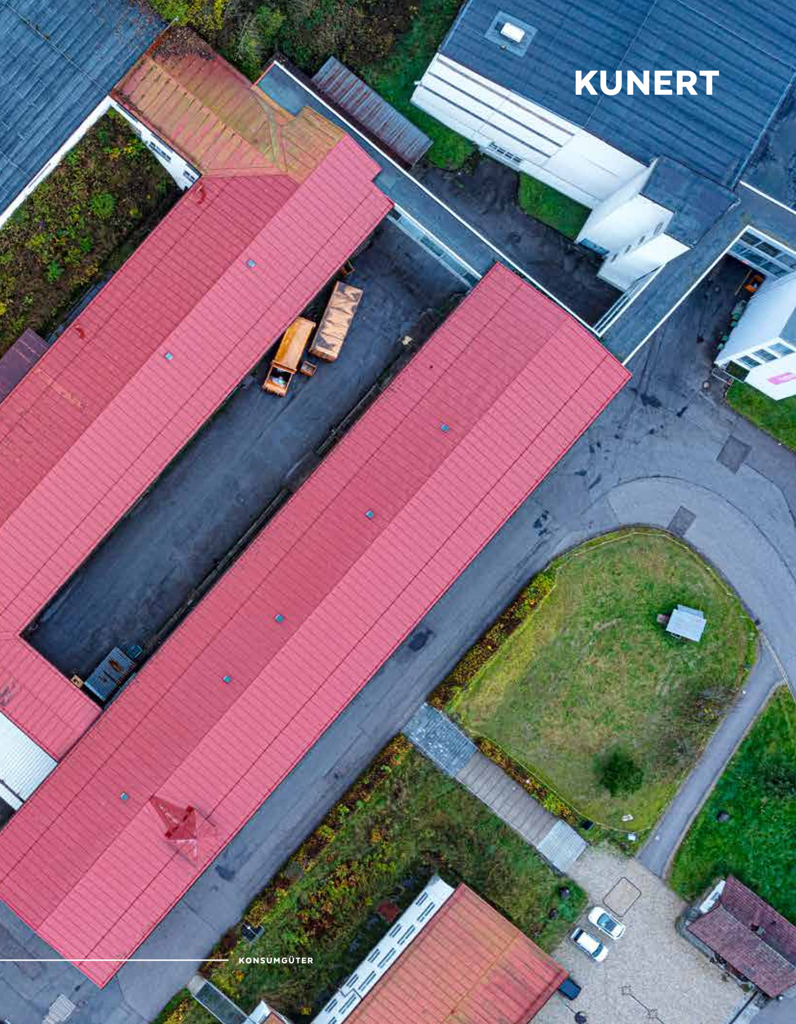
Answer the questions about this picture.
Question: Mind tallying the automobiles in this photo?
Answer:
three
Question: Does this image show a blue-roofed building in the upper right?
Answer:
Yes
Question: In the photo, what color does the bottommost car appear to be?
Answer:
blue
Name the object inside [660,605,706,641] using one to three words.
shed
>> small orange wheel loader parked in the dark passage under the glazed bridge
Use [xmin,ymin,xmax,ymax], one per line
[738,268,772,294]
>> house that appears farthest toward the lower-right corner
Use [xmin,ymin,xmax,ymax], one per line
[678,875,796,999]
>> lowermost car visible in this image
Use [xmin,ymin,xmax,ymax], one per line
[557,976,585,1002]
